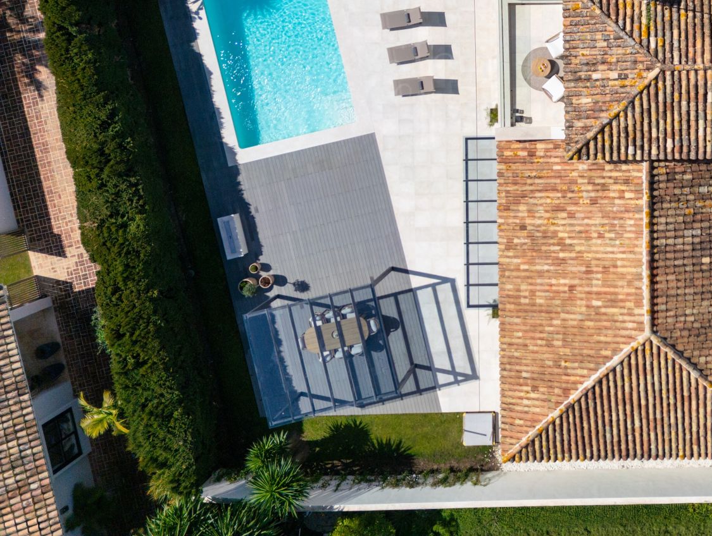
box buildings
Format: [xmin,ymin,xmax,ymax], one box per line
[0,267,112,536]
[464,0,712,470]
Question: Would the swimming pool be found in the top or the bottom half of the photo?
top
